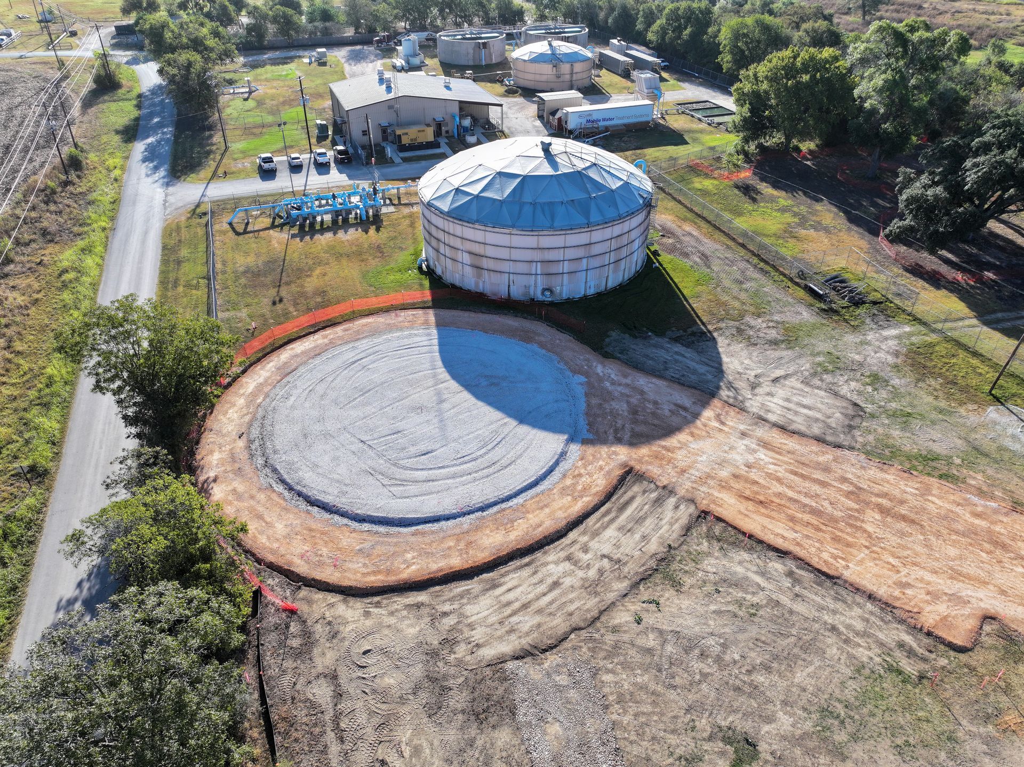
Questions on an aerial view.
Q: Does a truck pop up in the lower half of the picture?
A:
No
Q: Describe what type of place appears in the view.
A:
industrial area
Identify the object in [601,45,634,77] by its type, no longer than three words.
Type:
trailer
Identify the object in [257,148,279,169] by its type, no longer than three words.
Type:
truck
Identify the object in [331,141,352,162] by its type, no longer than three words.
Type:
truck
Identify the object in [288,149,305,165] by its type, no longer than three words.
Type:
car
